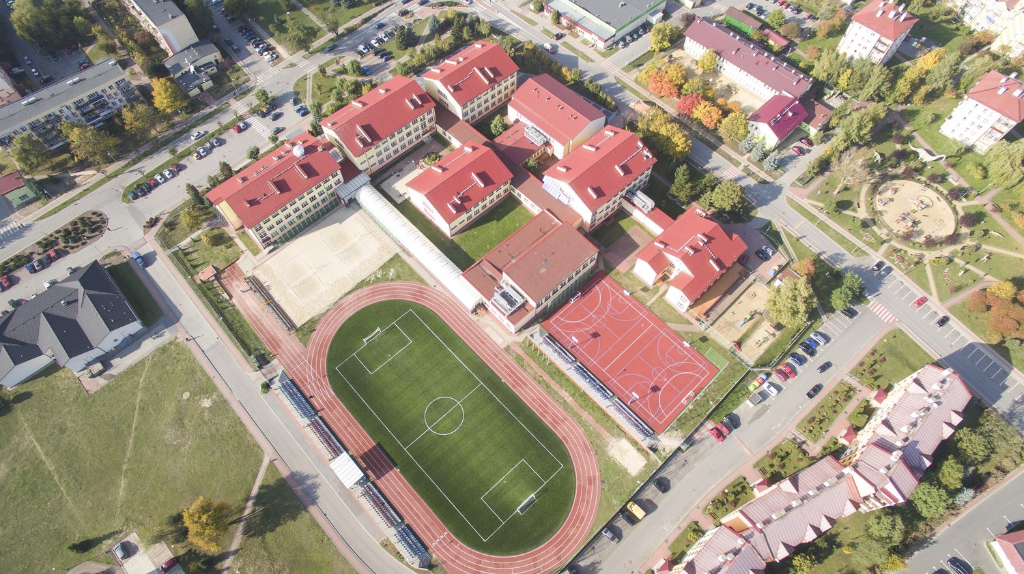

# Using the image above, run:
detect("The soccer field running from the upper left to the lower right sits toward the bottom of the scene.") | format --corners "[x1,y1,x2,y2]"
[329,302,573,553]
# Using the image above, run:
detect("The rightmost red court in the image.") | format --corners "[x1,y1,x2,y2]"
[540,269,721,436]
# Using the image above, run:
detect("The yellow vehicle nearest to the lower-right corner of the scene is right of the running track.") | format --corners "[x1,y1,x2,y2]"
[626,501,648,522]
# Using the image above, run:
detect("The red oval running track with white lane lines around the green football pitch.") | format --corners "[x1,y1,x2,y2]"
[210,261,600,574]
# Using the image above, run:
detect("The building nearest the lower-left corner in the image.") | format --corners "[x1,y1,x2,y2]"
[0,260,144,386]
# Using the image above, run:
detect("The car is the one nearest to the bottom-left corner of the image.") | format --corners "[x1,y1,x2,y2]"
[111,542,129,561]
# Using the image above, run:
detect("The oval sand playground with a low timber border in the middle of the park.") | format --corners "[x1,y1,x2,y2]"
[875,178,958,242]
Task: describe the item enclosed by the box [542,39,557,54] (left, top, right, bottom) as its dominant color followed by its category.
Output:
white vehicle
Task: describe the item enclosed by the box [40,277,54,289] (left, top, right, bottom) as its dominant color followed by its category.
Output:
white vehicle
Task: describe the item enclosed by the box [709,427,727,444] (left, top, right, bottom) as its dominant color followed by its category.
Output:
red car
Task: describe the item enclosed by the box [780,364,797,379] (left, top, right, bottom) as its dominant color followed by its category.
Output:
red car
